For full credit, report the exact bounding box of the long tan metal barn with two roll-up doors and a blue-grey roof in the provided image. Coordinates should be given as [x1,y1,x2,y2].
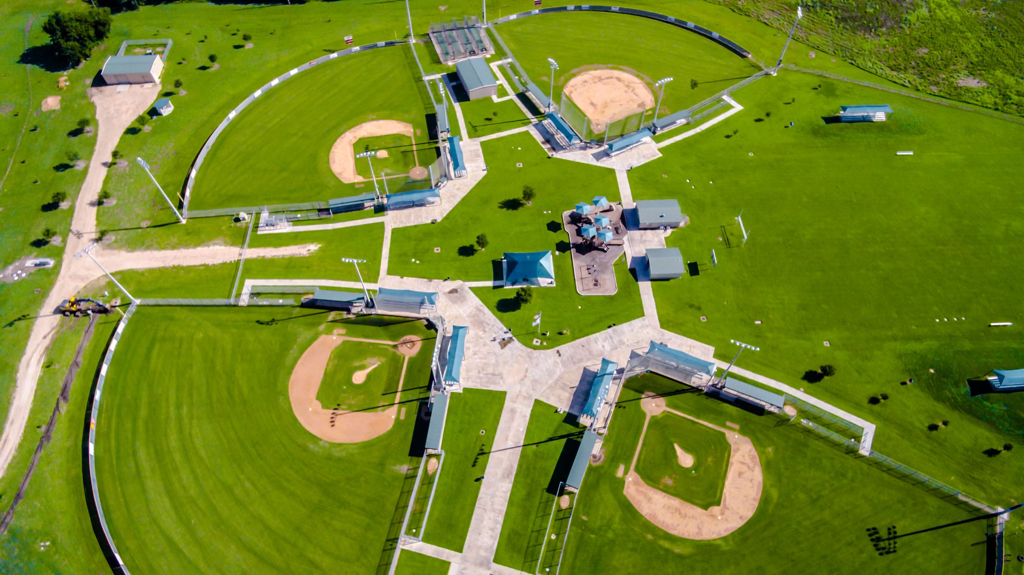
[101,54,164,88]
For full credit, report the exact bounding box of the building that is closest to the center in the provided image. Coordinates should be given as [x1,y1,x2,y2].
[502,250,555,289]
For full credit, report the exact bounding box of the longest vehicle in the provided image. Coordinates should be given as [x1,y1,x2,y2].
[50,295,104,314]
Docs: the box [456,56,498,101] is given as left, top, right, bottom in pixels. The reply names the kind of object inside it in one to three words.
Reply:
building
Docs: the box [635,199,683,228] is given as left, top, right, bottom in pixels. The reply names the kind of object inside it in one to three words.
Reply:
shed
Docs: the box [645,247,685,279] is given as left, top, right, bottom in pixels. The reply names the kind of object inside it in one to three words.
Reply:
shed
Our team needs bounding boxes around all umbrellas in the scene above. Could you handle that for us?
[581,227,596,240]
[598,231,613,246]
[594,216,609,231]
[593,197,607,212]
[575,203,590,219]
